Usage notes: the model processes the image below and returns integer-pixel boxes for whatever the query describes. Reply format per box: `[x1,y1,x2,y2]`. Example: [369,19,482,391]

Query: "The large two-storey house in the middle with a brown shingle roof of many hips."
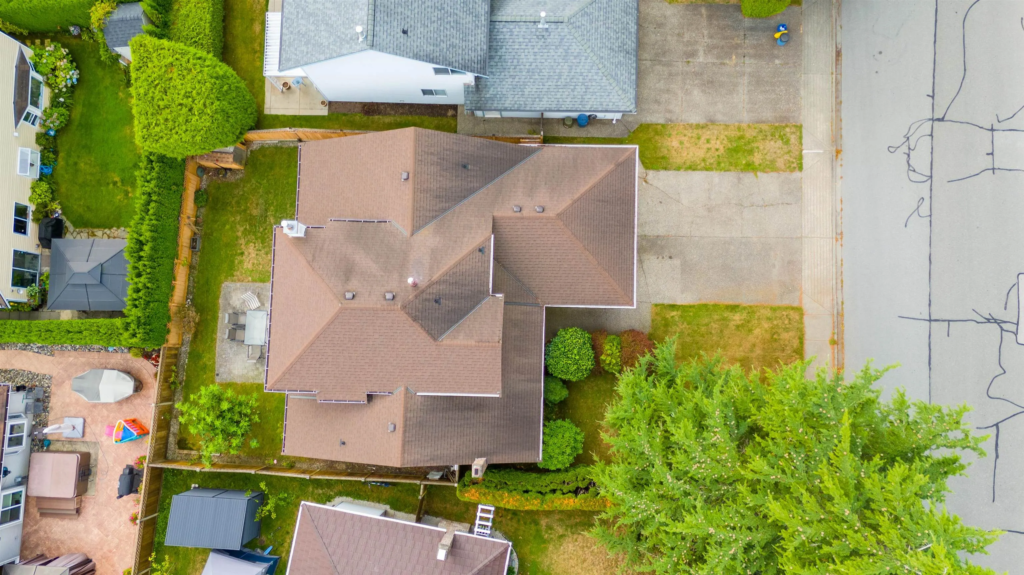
[263,127,641,482]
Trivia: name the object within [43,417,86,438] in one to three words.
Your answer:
umbrella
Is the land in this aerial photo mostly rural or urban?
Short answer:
urban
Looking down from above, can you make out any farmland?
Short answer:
No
